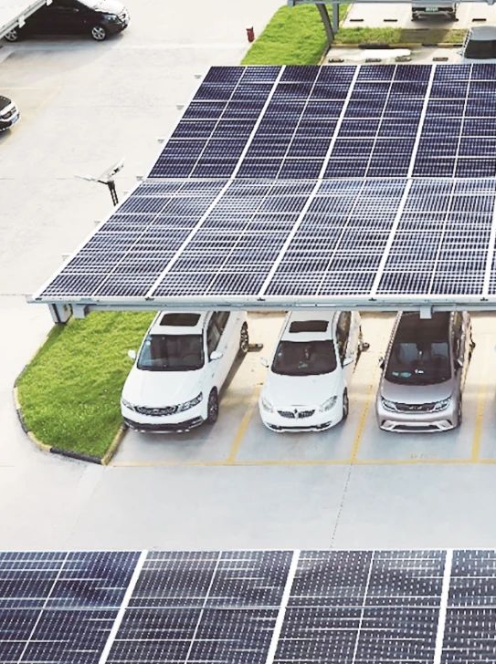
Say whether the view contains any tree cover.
No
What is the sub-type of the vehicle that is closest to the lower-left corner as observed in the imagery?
car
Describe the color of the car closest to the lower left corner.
white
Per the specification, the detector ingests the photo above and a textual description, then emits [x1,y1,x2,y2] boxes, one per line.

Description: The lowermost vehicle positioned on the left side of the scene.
[117,313,247,435]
